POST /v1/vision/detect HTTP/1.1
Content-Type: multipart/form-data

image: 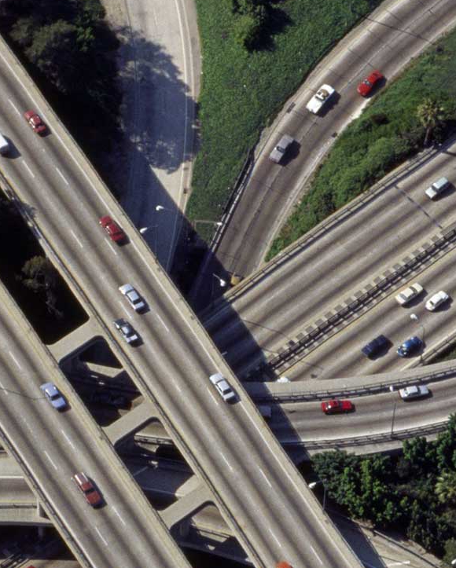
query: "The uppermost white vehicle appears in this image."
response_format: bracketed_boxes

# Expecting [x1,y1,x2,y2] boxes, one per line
[308,86,335,114]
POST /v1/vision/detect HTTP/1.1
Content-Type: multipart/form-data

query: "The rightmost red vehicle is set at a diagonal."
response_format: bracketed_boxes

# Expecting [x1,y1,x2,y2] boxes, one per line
[357,73,383,97]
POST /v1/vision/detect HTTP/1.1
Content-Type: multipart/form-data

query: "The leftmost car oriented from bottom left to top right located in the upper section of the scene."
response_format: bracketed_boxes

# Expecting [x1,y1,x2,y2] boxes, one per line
[270,137,293,163]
